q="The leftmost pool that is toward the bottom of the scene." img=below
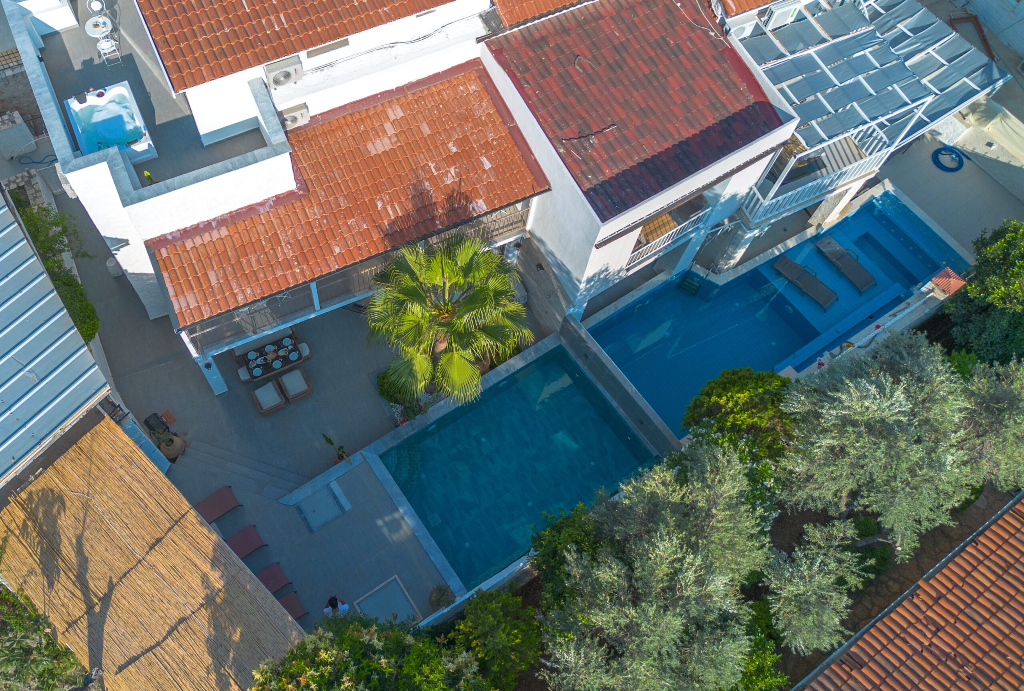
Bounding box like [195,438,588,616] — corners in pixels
[361,333,660,595]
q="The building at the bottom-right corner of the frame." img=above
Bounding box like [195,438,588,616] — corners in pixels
[792,483,1024,691]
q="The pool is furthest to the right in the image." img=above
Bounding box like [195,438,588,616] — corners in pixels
[579,178,978,473]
